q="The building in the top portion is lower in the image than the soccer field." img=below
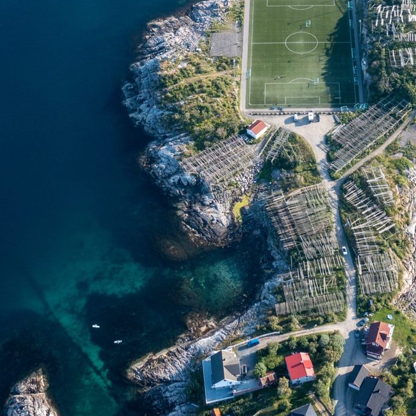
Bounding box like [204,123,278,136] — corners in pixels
[244,120,271,141]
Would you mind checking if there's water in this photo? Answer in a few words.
Yes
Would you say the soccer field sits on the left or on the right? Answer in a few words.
right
